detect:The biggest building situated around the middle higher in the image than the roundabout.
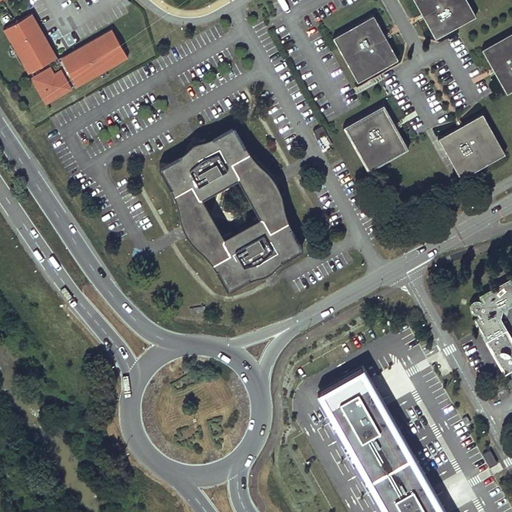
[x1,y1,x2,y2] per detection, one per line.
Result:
[161,130,302,293]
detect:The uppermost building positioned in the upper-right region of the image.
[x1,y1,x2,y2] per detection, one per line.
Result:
[412,0,476,42]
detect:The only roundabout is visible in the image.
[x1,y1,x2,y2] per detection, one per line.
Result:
[119,334,282,512]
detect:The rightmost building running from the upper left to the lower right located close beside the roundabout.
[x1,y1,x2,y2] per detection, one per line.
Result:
[316,369,441,512]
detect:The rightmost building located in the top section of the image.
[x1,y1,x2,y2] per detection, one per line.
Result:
[482,35,512,96]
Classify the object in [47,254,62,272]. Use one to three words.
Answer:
vehicle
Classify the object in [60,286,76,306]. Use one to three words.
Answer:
vehicle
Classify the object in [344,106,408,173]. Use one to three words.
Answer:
building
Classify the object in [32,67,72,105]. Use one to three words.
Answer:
house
